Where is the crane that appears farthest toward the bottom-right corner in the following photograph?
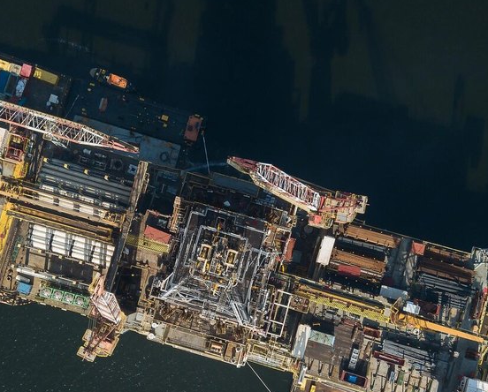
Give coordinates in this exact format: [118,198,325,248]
[388,309,488,346]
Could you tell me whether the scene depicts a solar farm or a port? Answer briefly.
port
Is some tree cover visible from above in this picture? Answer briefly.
No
